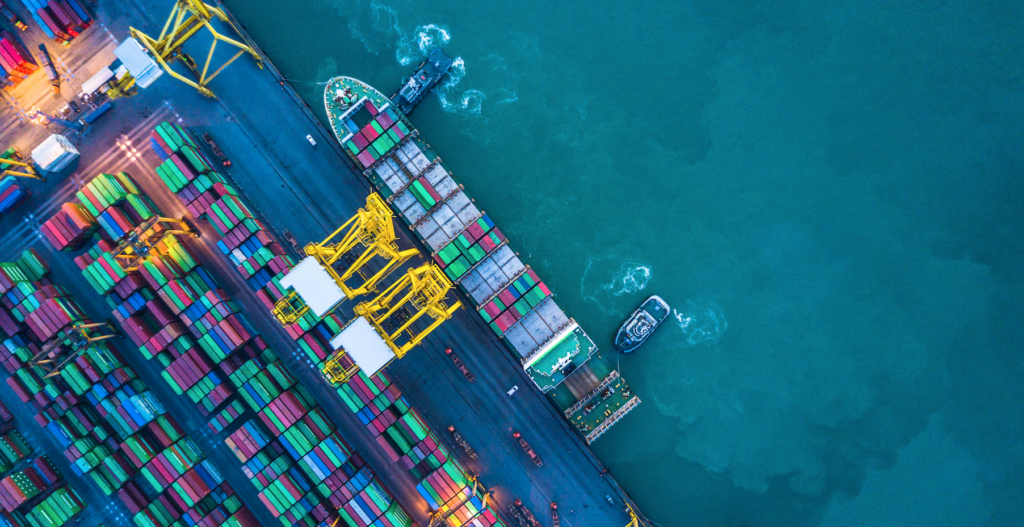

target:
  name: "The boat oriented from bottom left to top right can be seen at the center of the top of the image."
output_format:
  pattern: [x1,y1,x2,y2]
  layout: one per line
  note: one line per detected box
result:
[389,48,452,115]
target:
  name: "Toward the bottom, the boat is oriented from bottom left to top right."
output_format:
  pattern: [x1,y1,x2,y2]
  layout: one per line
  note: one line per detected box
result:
[612,295,672,355]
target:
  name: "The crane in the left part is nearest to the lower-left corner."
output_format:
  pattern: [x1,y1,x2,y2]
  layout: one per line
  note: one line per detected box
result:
[30,318,124,382]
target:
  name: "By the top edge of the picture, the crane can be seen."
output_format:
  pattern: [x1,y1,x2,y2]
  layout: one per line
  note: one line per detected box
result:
[100,0,269,106]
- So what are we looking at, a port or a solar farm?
port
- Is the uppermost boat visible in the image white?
No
